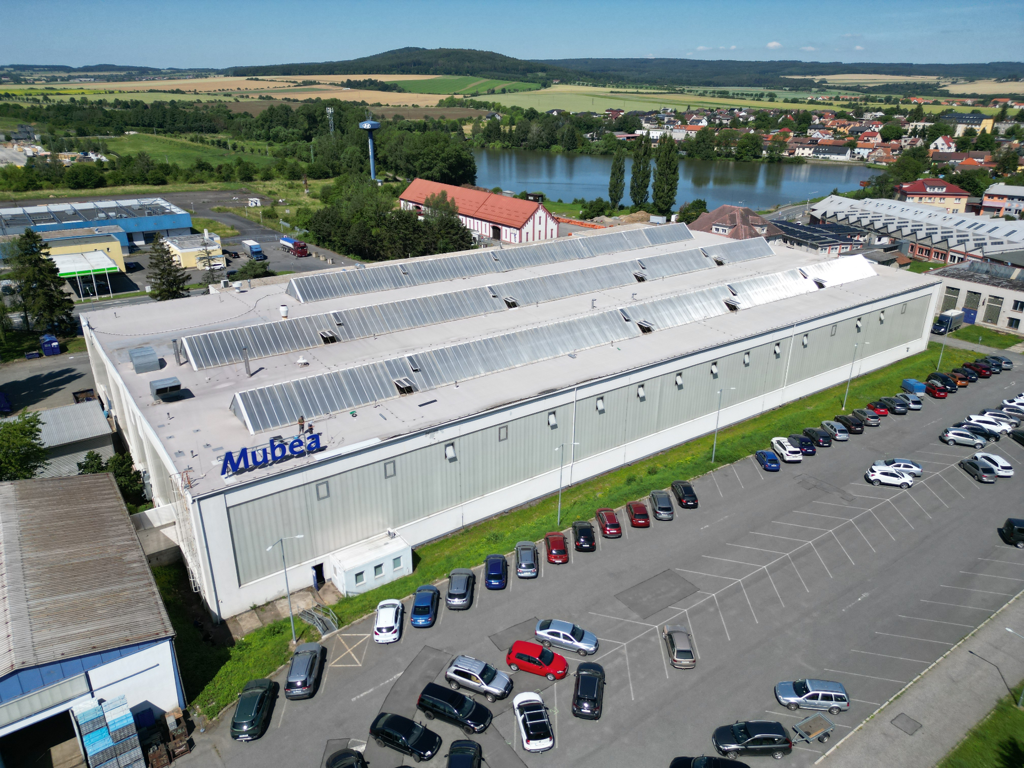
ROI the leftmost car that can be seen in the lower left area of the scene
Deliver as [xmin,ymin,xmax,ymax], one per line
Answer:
[231,674,283,738]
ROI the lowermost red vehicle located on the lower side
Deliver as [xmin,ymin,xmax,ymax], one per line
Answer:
[503,640,568,680]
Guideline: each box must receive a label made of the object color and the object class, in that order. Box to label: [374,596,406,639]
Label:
white car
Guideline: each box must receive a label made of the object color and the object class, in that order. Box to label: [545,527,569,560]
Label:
red car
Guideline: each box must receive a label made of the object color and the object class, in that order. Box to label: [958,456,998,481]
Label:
gray car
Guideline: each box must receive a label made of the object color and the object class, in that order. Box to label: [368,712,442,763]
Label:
black car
